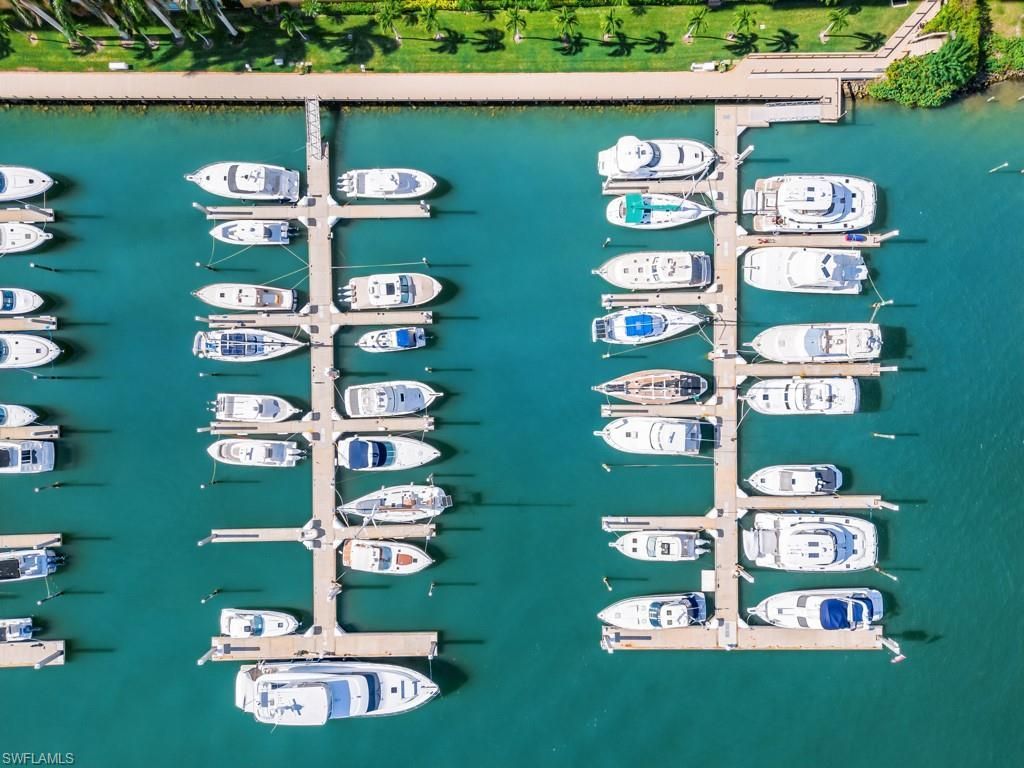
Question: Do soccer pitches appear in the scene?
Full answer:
No, no soccer pitch can be seen from above.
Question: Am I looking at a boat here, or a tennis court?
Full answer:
This aerial view contains a boat.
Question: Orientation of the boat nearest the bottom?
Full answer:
The boat nearest the bottom is laid out from side to side.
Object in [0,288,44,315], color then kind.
white boat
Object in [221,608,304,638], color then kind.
white boat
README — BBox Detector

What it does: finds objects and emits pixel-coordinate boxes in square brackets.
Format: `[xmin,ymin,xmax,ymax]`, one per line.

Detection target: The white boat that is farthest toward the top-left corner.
[0,165,59,202]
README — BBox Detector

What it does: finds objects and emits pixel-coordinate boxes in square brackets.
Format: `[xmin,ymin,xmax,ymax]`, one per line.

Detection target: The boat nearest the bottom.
[238,656,442,739]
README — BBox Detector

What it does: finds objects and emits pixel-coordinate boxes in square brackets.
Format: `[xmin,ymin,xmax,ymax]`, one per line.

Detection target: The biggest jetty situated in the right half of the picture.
[600,105,883,650]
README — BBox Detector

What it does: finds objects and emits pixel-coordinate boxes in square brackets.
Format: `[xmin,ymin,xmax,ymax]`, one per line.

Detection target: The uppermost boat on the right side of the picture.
[598,139,716,185]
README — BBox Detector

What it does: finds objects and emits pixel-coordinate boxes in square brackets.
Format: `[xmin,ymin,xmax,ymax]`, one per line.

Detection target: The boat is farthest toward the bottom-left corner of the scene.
[0,617,43,641]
